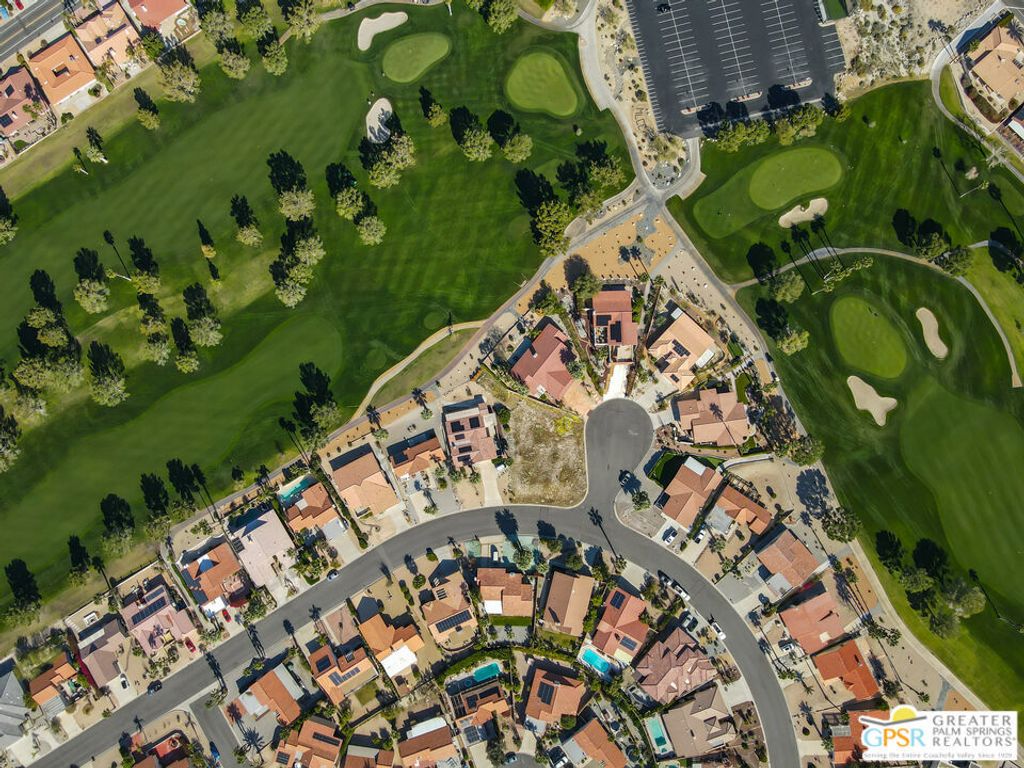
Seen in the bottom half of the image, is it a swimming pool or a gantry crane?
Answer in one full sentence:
The one visible in the bottom half of the image is a swimming pool.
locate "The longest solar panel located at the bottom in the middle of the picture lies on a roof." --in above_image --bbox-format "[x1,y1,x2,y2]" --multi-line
[436,610,472,633]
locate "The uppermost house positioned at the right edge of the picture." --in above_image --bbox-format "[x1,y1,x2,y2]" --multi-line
[960,24,1024,115]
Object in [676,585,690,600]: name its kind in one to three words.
vehicle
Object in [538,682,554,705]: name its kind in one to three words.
solar panel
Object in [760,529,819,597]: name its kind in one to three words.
house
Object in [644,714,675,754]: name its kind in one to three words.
swimming pool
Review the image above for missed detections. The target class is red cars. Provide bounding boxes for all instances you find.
[15,0,26,12]
[222,609,232,622]
[185,638,196,651]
